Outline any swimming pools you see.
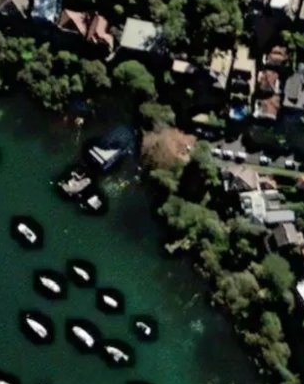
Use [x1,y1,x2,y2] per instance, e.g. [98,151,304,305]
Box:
[228,106,248,119]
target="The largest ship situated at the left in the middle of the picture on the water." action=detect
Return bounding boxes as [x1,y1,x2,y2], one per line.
[62,172,91,193]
